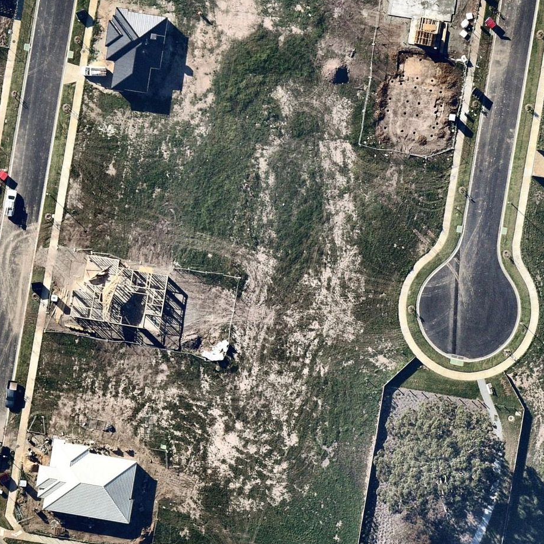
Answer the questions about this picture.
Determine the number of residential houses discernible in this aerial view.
3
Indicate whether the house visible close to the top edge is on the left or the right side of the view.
left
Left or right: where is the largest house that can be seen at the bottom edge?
left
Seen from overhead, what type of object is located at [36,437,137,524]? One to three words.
house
